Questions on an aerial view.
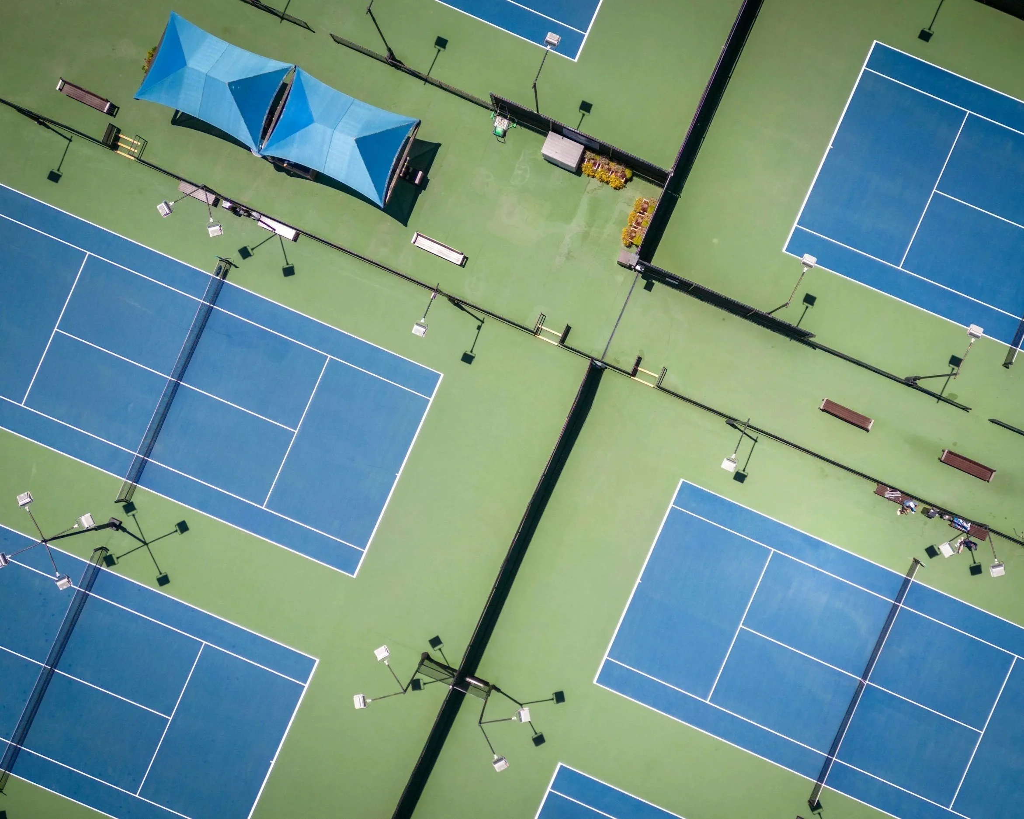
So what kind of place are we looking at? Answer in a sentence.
The picture captures a sports ground.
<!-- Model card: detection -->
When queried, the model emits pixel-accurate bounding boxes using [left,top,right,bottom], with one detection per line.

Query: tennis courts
[0,185,443,579]
[537,764,685,819]
[432,0,601,60]
[784,41,1024,352]
[0,524,315,819]
[594,481,1024,819]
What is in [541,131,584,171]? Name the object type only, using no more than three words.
shed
